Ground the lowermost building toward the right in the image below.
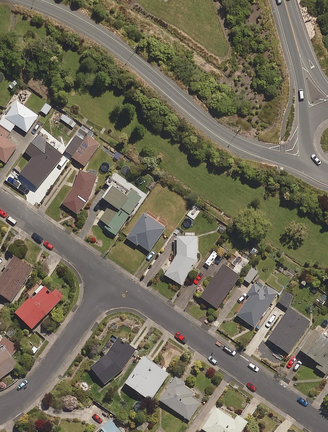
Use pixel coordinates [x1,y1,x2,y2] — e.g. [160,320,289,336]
[202,408,246,432]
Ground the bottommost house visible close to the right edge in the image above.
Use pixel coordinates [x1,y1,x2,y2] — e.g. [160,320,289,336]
[300,329,328,376]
